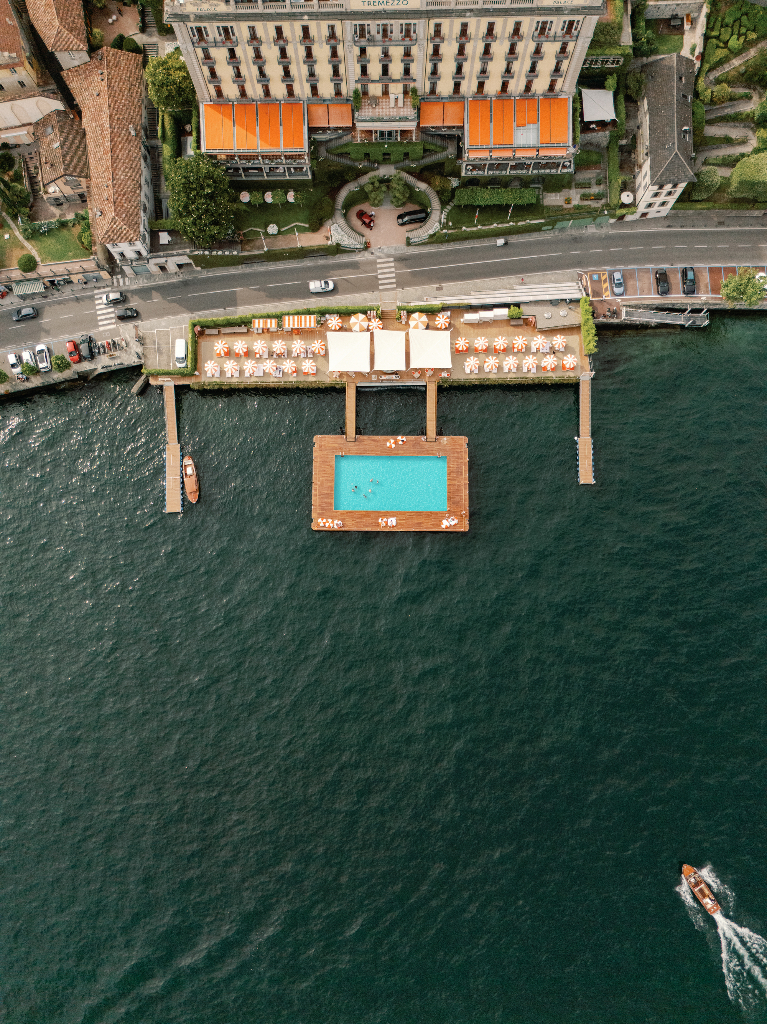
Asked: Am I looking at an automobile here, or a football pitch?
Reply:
automobile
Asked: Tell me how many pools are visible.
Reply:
1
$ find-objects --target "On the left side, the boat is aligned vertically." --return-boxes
[183,457,197,502]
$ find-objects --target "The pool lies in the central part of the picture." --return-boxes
[312,426,469,532]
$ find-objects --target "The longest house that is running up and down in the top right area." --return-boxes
[630,53,698,214]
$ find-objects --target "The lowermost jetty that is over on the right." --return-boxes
[575,436,597,486]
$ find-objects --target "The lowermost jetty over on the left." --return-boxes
[161,444,184,513]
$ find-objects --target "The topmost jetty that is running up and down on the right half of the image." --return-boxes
[579,378,593,439]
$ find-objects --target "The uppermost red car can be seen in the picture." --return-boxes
[357,211,374,228]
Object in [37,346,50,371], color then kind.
white vehicle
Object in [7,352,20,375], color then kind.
white vehicle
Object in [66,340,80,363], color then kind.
red car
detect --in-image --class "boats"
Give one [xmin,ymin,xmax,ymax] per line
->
[183,457,197,502]
[681,862,725,920]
